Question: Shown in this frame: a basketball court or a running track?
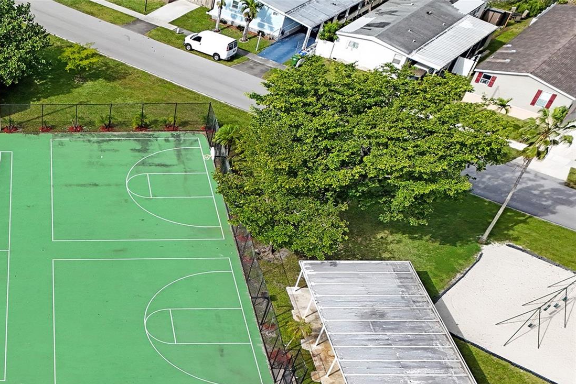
basketball court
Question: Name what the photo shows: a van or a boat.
van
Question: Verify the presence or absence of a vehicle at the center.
No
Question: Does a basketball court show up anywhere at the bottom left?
Yes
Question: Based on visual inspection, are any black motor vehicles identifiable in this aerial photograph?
No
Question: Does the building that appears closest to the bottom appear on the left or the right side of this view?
right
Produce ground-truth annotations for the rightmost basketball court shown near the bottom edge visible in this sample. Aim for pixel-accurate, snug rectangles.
[30,248,273,384]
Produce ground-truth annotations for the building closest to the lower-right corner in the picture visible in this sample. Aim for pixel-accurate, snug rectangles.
[285,261,474,384]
